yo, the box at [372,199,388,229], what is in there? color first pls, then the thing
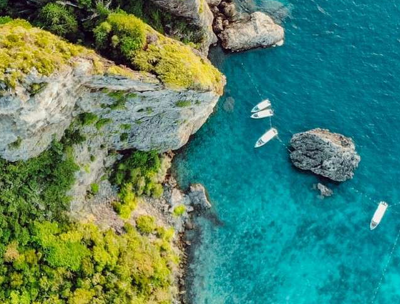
white boat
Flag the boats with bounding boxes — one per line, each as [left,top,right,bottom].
[372,199,388,229]
[251,110,275,119]
[255,127,279,146]
[252,98,272,111]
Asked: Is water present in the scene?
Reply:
Yes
